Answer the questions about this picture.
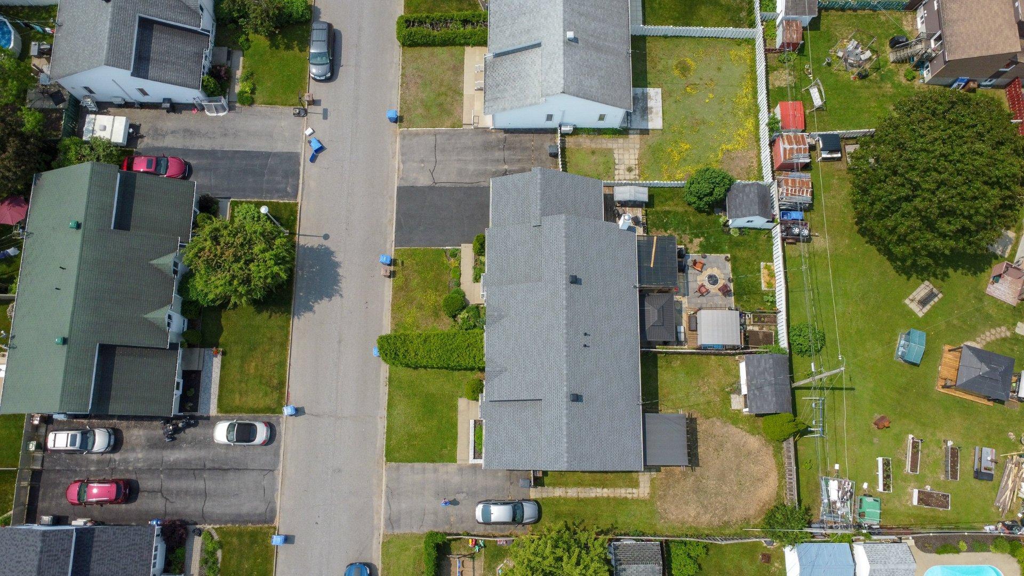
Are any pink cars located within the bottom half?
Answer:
Yes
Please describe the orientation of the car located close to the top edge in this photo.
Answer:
vertically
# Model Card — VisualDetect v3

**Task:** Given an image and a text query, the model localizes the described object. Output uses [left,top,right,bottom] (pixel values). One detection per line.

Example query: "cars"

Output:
[46,424,119,456]
[305,20,336,81]
[123,154,189,181]
[213,417,273,448]
[476,496,537,529]
[345,558,373,576]
[65,476,133,508]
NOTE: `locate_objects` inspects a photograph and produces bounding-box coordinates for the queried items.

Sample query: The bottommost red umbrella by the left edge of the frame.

[0,190,30,225]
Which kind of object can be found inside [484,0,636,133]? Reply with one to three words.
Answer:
house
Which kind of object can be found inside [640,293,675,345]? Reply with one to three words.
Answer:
gazebo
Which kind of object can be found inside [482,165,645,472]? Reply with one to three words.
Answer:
house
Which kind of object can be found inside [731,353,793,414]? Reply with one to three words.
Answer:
shed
